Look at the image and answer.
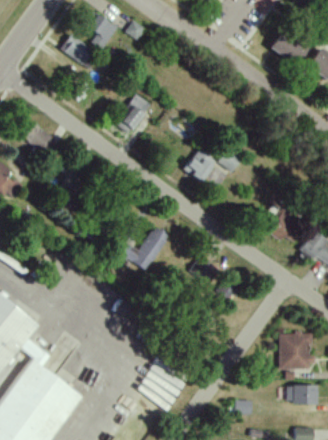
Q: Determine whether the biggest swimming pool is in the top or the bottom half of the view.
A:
top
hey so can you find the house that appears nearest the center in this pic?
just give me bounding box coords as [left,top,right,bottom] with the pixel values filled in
[124,228,167,270]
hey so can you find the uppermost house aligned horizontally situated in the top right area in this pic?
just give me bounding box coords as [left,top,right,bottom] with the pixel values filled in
[272,40,310,58]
